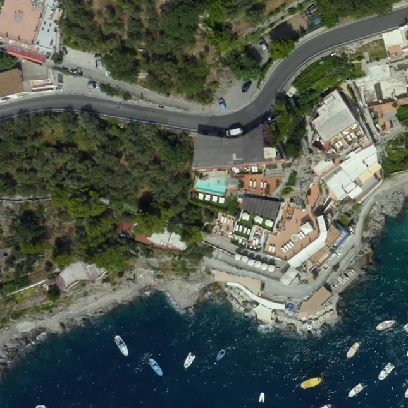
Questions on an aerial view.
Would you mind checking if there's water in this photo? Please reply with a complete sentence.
Yes, water can be seen from above here.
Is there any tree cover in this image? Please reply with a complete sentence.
Yes, tree cover can be seen from above here.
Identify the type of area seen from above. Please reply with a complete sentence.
The picture captures a residential area.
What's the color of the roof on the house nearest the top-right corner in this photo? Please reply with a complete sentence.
The roof of the house nearest the top-right corner is white.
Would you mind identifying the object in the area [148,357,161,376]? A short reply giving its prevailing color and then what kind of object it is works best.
blue boat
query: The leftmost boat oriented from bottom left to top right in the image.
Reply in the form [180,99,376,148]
[184,352,197,369]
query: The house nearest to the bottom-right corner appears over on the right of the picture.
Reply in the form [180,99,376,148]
[299,286,333,318]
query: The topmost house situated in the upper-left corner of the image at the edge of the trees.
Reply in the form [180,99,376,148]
[0,0,71,52]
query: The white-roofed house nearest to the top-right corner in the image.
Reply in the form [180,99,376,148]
[383,26,408,57]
